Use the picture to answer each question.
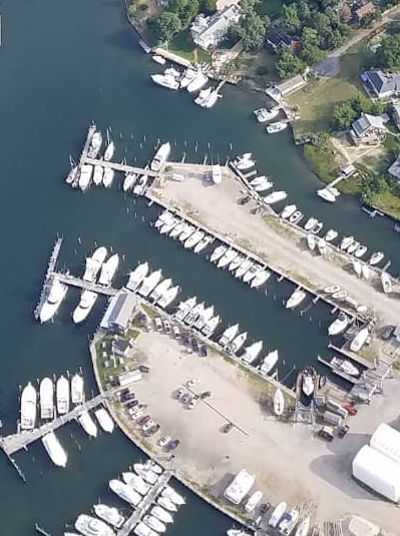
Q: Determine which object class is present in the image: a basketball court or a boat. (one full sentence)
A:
Of the two, only a boat appears.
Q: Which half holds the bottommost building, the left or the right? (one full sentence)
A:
The bottommost building appears in the right half of the scene.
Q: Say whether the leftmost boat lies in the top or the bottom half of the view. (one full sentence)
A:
The leftmost boat sits in the bottom half of the picture.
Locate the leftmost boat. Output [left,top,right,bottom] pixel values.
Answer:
[16,378,36,432]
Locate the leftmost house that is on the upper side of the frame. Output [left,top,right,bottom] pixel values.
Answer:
[182,4,243,57]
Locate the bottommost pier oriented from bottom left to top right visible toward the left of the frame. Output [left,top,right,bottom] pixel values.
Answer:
[113,468,175,536]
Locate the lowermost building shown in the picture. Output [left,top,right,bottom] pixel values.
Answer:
[351,444,400,502]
